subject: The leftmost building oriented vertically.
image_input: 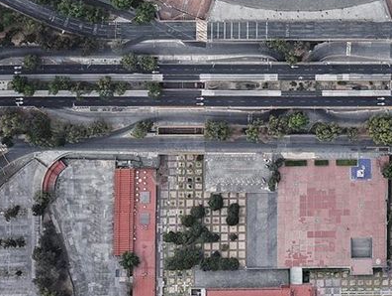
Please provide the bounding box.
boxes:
[112,167,135,254]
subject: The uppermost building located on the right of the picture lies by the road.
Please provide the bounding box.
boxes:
[204,150,270,192]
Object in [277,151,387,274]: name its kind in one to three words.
building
